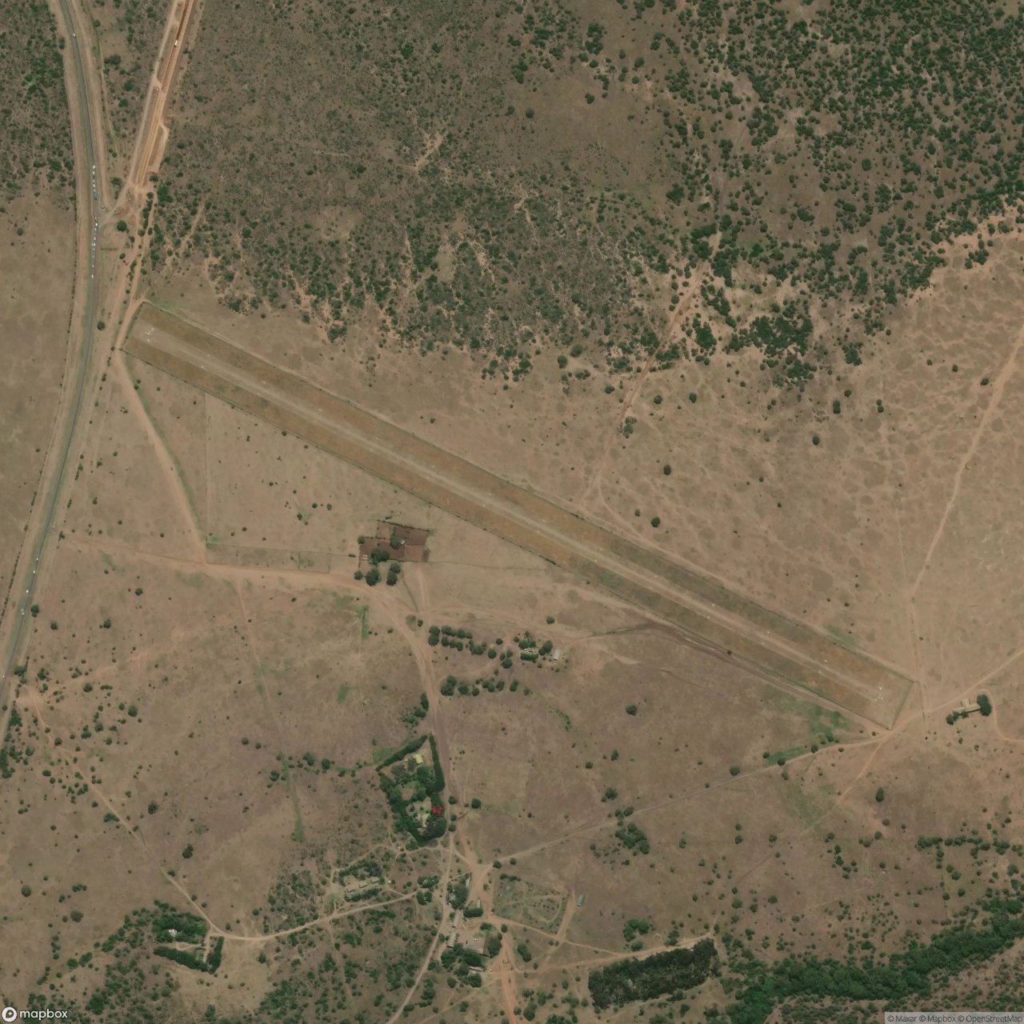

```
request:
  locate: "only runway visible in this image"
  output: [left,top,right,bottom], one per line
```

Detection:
[121,302,913,730]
